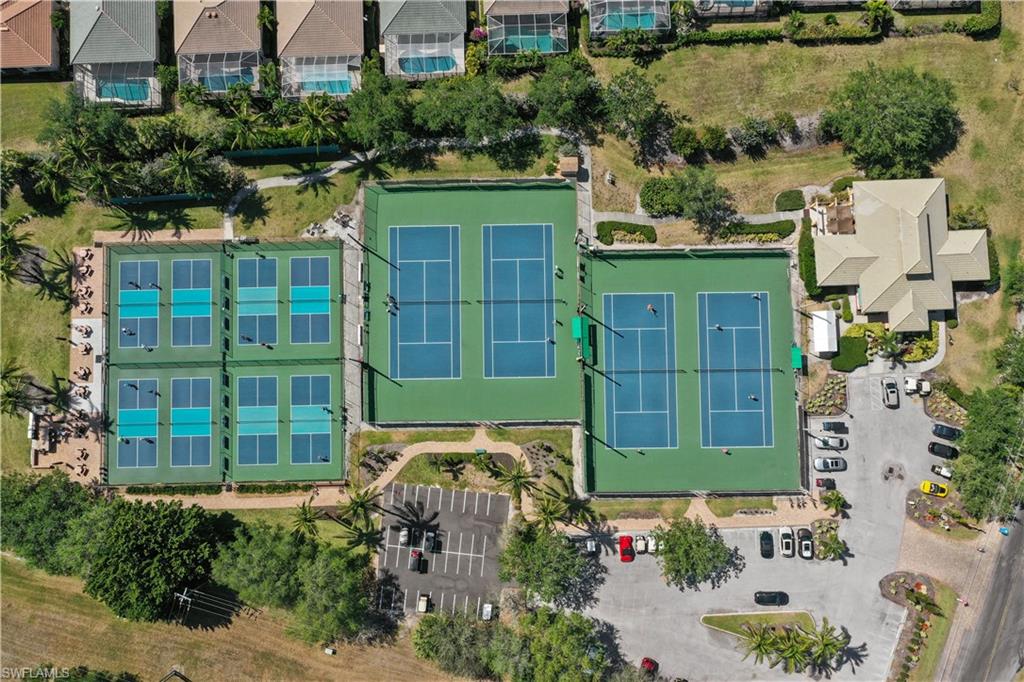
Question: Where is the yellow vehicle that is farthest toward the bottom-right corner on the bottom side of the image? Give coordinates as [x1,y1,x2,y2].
[919,481,949,497]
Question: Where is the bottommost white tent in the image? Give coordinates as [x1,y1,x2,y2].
[807,309,838,358]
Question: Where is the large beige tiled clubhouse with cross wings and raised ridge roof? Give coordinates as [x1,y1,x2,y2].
[812,178,990,332]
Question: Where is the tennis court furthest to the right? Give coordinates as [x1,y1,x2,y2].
[694,292,780,448]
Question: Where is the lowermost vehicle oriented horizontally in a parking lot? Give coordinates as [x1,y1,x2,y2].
[754,591,787,606]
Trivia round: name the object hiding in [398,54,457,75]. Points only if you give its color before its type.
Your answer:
blue swimming pool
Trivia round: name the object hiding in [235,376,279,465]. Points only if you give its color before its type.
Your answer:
blue sports court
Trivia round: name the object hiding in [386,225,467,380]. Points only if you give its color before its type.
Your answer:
blue tennis court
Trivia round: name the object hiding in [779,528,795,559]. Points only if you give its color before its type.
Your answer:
white car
